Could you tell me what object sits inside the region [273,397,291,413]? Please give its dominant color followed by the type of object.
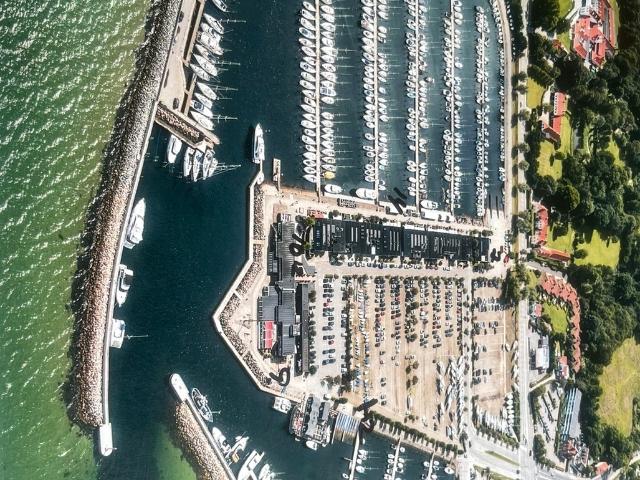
white boat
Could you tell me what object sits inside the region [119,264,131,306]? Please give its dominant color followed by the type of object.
white boat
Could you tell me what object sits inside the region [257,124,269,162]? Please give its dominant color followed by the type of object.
white ship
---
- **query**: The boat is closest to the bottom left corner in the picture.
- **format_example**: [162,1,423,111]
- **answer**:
[113,319,134,348]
